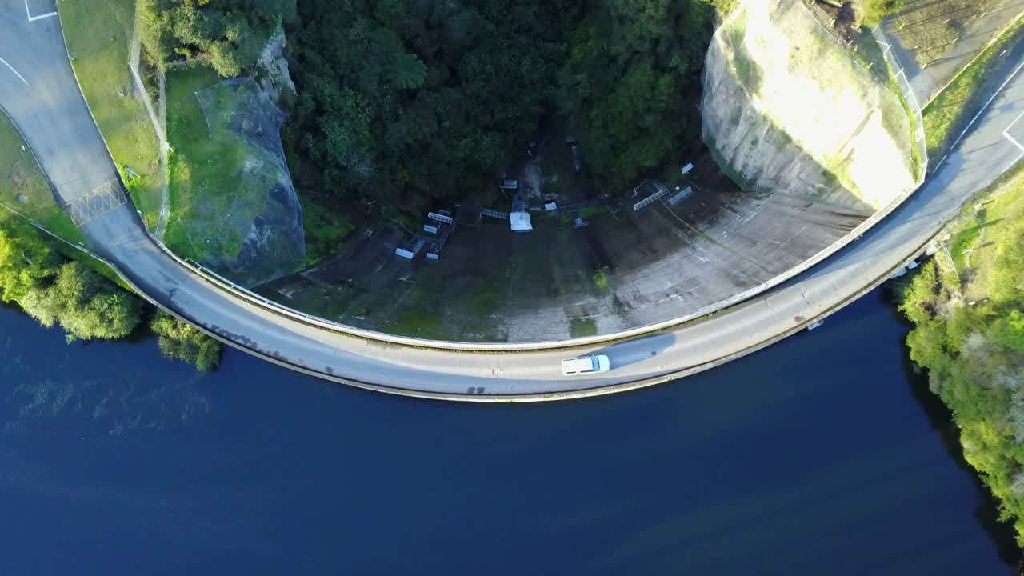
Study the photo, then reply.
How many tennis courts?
zero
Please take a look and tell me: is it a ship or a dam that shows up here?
dam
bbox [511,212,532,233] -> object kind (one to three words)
shed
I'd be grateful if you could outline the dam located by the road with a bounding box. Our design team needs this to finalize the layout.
[105,182,946,402]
